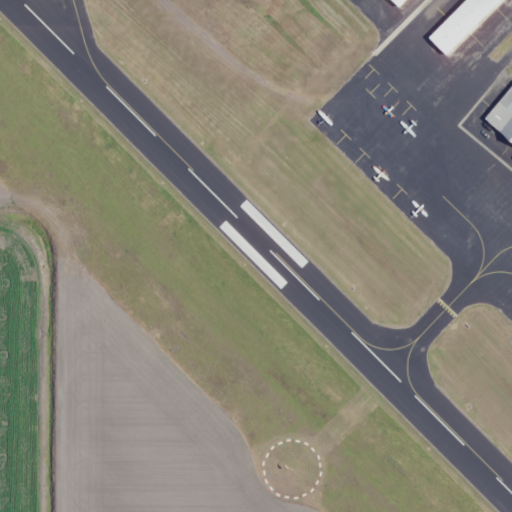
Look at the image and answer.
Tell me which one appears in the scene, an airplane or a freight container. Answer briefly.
airplane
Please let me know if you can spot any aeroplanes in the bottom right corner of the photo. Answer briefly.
No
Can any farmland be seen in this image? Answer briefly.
Yes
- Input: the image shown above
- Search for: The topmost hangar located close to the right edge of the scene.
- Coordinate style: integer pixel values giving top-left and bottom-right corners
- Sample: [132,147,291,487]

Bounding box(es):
[428,0,505,57]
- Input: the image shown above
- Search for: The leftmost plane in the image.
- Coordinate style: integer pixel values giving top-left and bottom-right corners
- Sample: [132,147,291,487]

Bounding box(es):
[317,109,333,126]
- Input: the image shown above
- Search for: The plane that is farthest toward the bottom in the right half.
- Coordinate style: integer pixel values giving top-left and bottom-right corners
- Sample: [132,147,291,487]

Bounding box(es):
[412,200,428,217]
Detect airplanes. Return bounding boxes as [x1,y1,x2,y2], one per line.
[412,200,428,217]
[317,109,333,126]
[400,120,418,137]
[372,165,389,182]
[382,104,395,118]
